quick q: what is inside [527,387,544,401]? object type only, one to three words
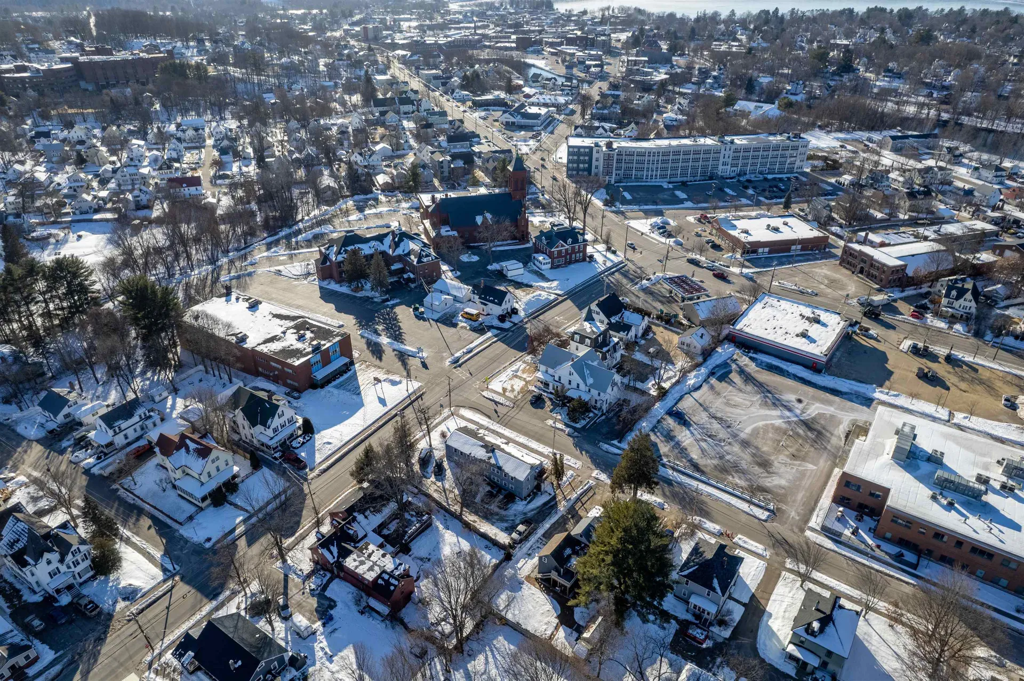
car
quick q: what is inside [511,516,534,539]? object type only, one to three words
truck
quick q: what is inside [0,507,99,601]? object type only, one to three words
house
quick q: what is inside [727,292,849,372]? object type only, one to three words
building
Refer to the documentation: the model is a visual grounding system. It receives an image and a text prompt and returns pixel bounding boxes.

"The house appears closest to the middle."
[469,279,516,316]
